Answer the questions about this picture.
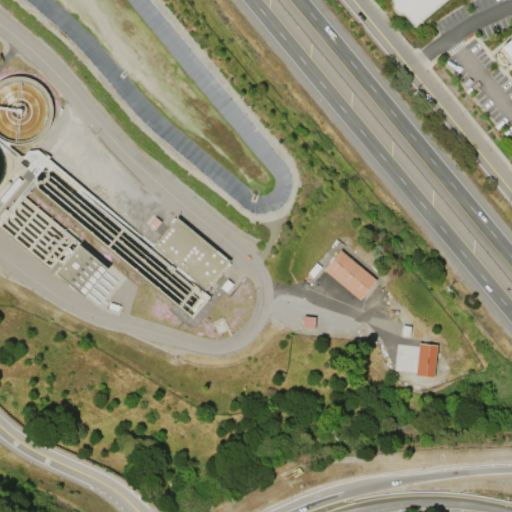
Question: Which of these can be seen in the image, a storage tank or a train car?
storage tank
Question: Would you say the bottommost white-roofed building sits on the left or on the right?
right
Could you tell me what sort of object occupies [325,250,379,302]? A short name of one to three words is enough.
barn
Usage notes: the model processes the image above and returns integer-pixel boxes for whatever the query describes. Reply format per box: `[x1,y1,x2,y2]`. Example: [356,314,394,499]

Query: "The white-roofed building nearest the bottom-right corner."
[396,344,420,374]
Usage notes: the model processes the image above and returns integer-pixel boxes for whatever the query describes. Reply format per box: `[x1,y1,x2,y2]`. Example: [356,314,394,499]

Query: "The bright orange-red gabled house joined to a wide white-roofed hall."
[418,343,439,378]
